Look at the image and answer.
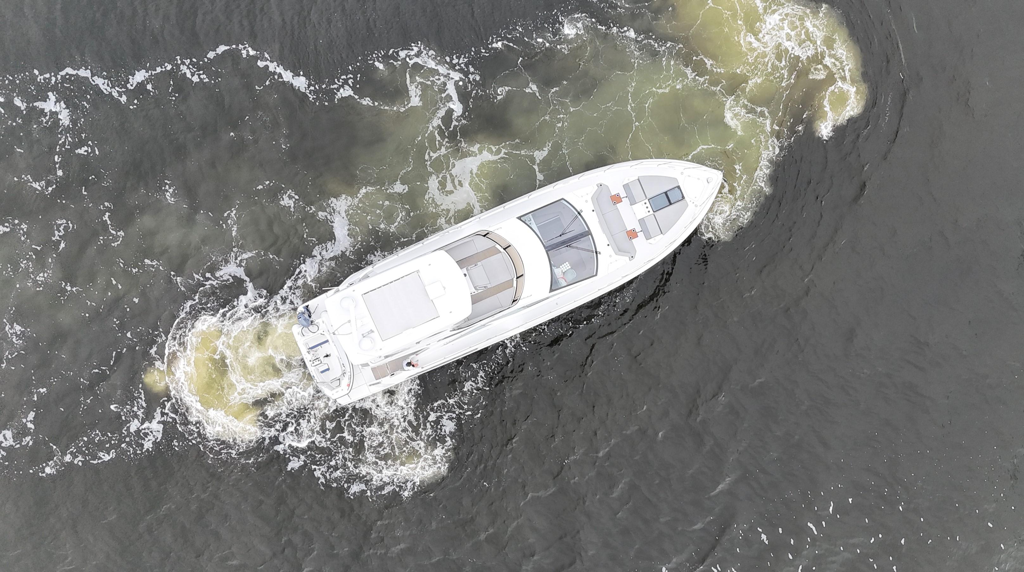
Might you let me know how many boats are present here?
2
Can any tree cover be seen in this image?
No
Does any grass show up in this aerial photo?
No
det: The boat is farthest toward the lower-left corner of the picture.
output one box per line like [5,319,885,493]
[292,305,354,400]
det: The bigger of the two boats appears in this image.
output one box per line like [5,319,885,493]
[298,158,726,404]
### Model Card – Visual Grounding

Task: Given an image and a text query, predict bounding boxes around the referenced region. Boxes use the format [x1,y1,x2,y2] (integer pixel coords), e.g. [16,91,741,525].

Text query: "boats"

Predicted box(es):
[298,158,726,404]
[292,305,354,400]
